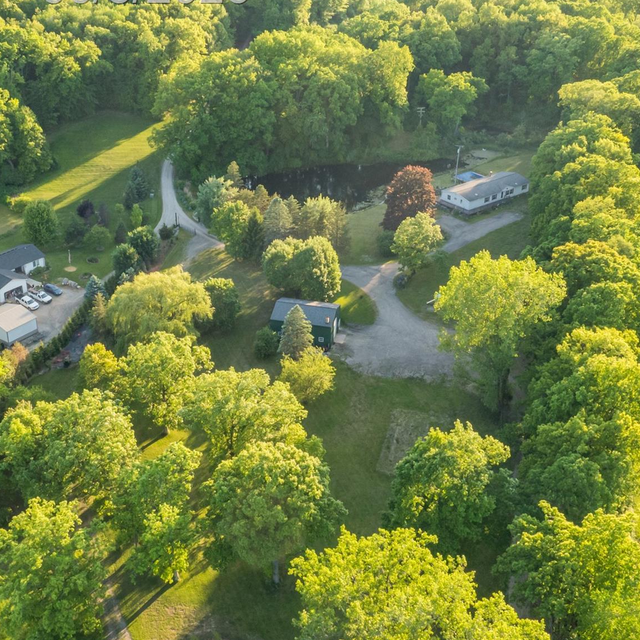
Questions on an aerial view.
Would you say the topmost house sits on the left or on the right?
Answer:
right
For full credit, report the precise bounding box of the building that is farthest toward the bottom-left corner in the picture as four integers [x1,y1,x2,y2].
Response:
[0,299,39,345]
